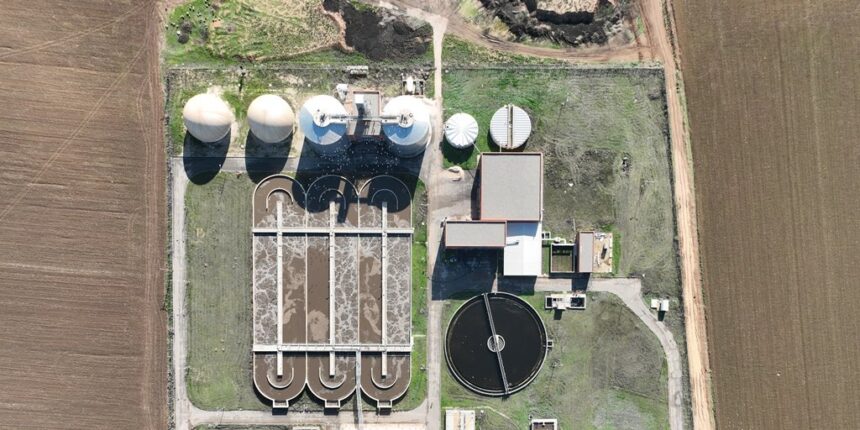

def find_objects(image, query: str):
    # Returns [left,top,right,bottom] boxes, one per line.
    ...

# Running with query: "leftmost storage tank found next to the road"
[181,92,241,144]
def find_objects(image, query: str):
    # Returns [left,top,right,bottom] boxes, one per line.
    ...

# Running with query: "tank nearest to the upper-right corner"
[489,104,531,149]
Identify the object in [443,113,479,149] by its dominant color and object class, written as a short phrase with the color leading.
white storage tank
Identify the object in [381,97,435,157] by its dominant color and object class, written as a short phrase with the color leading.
white storage tank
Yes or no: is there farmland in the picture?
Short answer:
Yes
